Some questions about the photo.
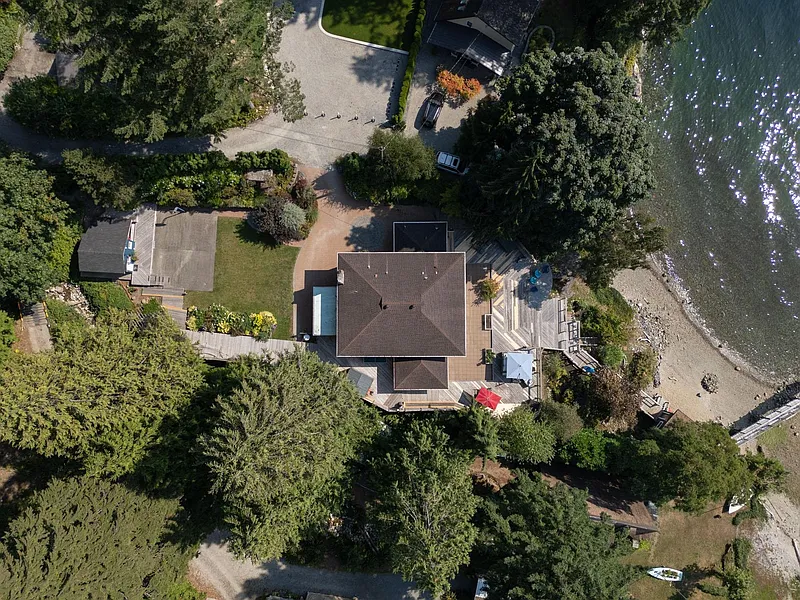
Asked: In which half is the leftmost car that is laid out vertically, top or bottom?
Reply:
top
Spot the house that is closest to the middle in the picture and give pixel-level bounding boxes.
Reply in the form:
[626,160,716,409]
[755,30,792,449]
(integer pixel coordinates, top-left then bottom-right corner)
[337,221,467,391]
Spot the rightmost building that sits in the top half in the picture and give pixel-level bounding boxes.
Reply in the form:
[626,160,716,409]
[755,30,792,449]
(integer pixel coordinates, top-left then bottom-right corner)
[426,0,536,83]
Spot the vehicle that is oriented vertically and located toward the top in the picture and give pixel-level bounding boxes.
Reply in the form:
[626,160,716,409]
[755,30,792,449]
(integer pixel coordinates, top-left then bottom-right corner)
[423,92,445,130]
